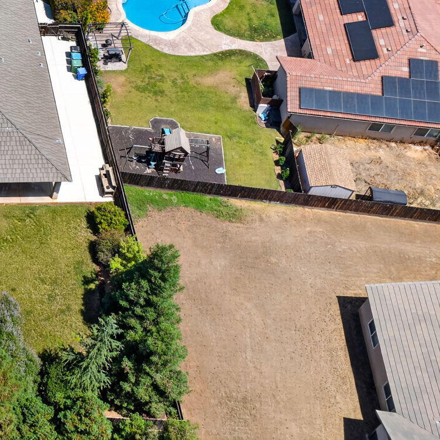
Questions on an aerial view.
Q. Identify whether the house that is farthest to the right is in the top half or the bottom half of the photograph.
bottom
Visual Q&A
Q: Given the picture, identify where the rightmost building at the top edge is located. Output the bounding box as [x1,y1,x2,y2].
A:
[273,0,440,144]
